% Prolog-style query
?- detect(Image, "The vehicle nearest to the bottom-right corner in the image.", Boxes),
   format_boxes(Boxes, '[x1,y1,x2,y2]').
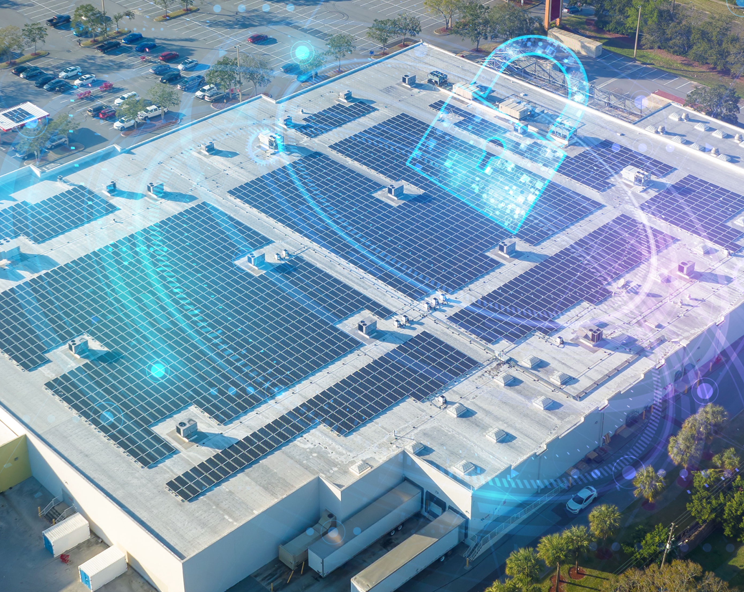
[566,487,599,515]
